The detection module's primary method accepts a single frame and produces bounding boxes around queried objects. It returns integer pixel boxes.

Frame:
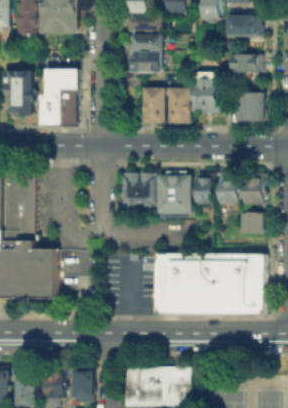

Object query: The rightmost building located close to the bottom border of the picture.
[126,368,192,408]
